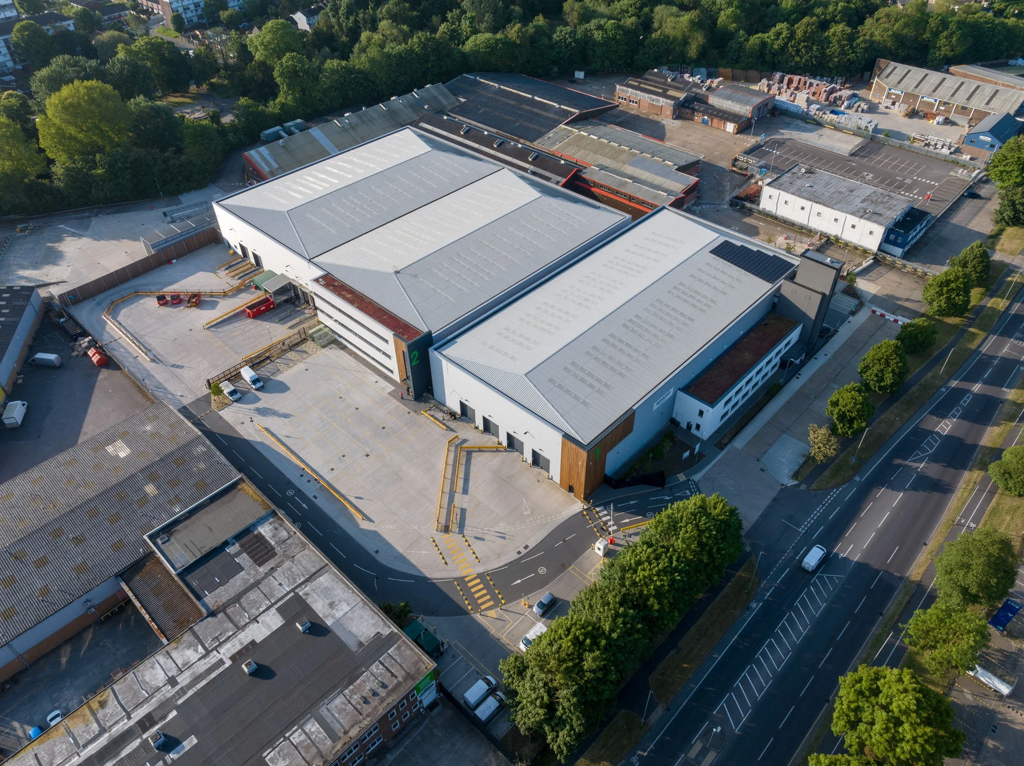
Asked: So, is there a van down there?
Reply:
Yes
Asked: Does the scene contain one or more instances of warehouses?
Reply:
Yes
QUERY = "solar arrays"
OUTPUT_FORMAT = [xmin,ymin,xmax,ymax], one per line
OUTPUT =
[710,238,785,286]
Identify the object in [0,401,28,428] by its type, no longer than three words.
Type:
truck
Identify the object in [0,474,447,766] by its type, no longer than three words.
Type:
building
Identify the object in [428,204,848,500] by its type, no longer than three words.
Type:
warehouse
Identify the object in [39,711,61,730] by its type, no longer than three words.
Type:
car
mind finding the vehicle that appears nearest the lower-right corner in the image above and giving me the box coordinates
[800,545,827,574]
